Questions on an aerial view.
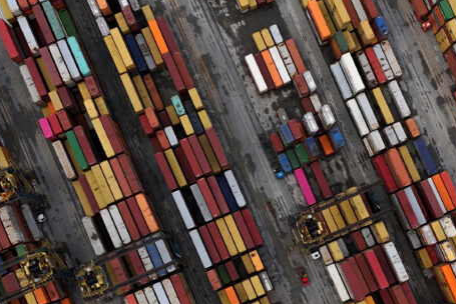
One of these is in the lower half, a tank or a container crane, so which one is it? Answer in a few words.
container crane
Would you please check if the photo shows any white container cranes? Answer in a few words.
No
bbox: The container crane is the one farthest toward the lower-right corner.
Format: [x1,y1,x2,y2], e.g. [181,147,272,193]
[280,174,401,253]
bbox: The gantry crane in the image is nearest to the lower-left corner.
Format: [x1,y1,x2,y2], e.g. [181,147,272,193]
[0,234,82,303]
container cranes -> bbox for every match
[0,234,82,303]
[0,163,53,207]
[69,221,191,304]
[280,174,401,253]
